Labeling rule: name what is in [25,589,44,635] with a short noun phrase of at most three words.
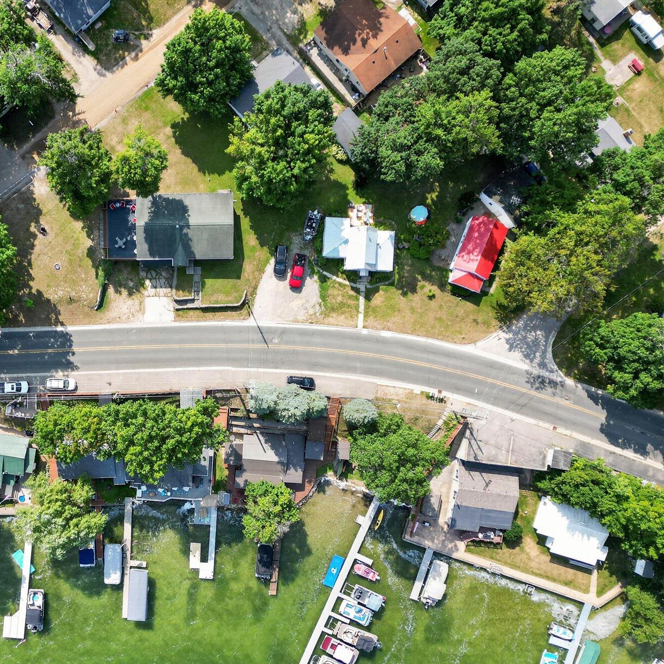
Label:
boat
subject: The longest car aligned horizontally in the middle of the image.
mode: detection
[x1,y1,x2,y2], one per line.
[287,376,315,389]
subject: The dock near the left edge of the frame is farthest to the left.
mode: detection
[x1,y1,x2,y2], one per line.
[4,539,33,638]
